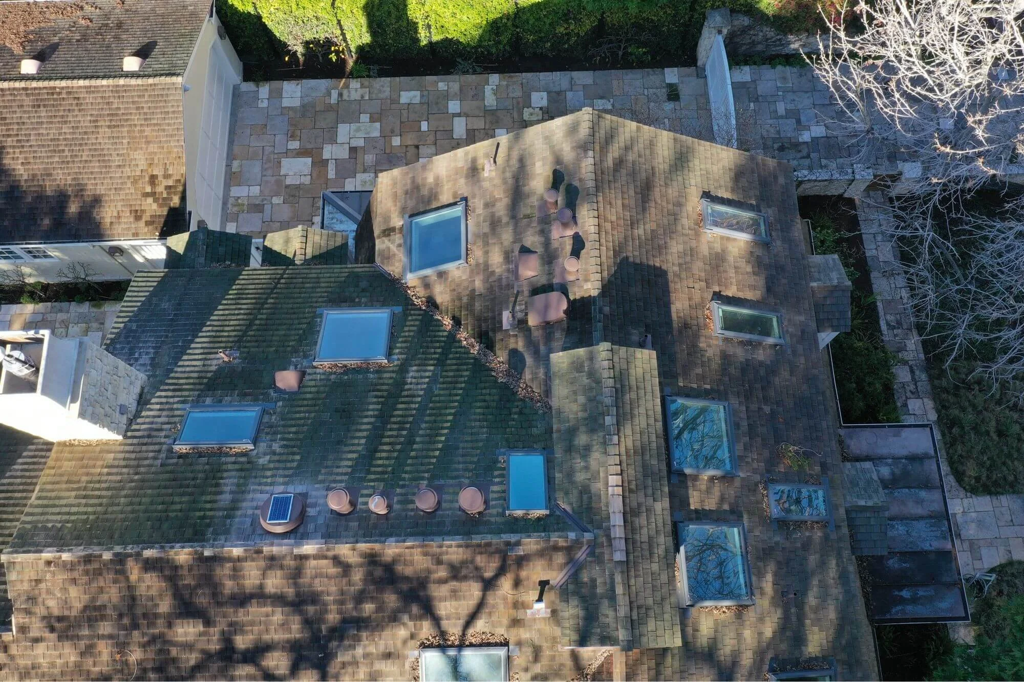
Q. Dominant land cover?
buildings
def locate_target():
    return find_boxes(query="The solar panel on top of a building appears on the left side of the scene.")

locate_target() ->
[265,497,293,524]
